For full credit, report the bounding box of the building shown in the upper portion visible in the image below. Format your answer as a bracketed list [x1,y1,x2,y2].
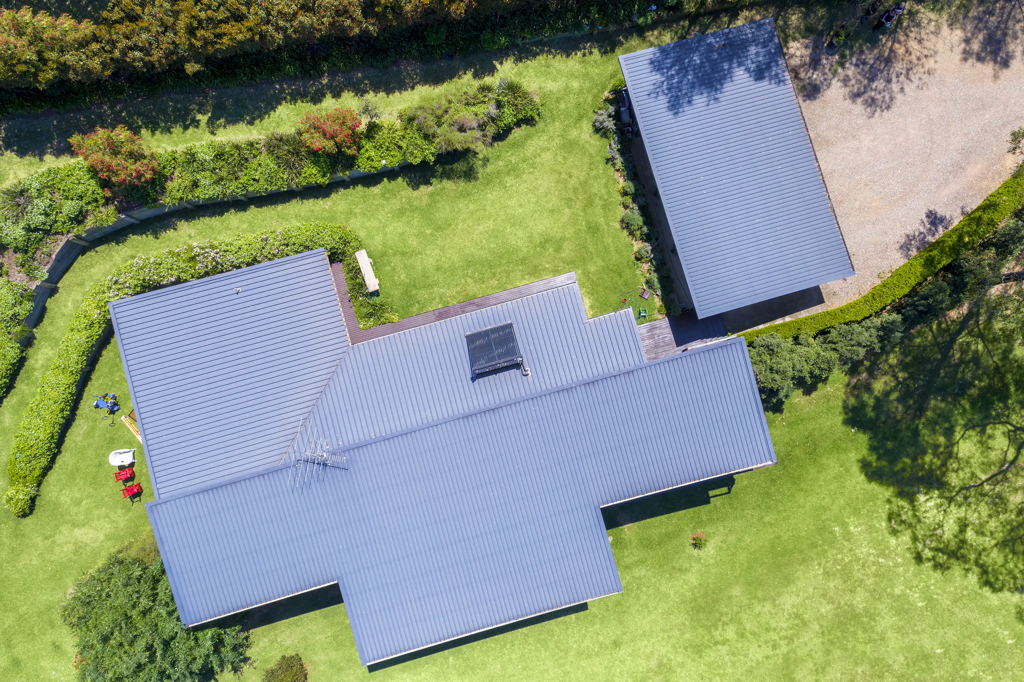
[618,17,857,319]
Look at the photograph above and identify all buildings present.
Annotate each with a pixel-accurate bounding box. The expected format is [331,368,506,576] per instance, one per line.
[618,17,857,319]
[107,247,777,667]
